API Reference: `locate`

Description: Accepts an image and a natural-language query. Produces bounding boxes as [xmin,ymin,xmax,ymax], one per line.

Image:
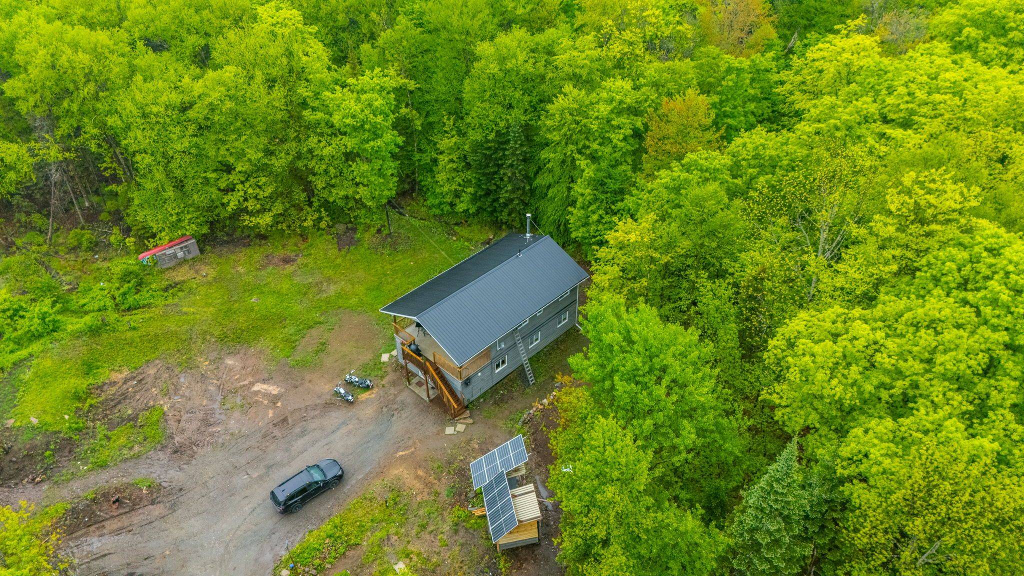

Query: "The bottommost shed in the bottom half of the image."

[498,482,542,553]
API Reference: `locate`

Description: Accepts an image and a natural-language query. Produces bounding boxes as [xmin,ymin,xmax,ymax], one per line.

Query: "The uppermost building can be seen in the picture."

[378,216,591,418]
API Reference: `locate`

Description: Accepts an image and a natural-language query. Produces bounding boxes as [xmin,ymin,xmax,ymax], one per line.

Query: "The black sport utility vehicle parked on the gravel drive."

[268,460,344,517]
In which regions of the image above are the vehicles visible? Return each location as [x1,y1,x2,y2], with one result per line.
[344,369,371,389]
[268,460,344,517]
[333,381,356,403]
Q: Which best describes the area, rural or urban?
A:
rural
